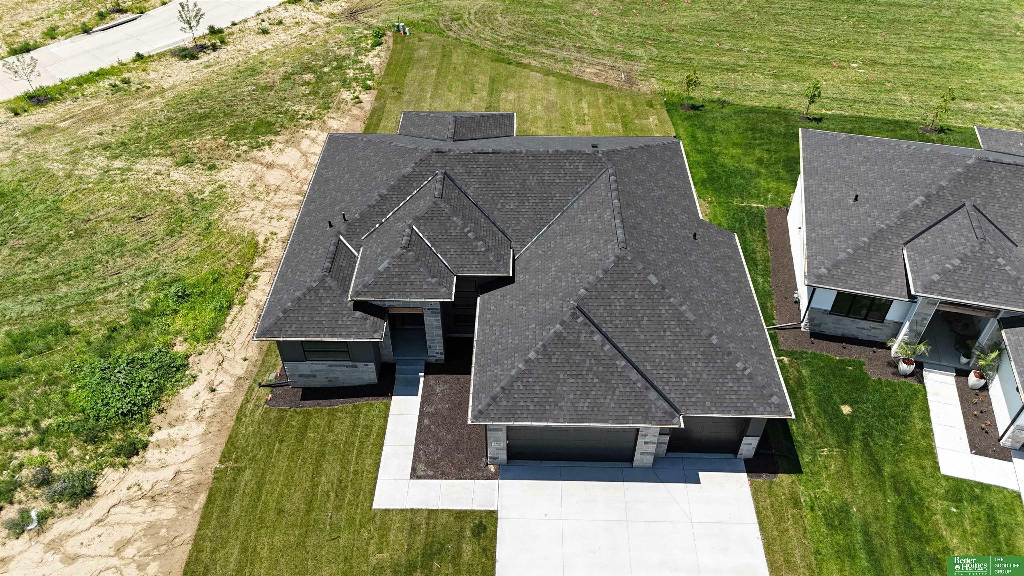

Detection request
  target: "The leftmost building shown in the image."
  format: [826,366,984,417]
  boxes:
[253,111,794,468]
